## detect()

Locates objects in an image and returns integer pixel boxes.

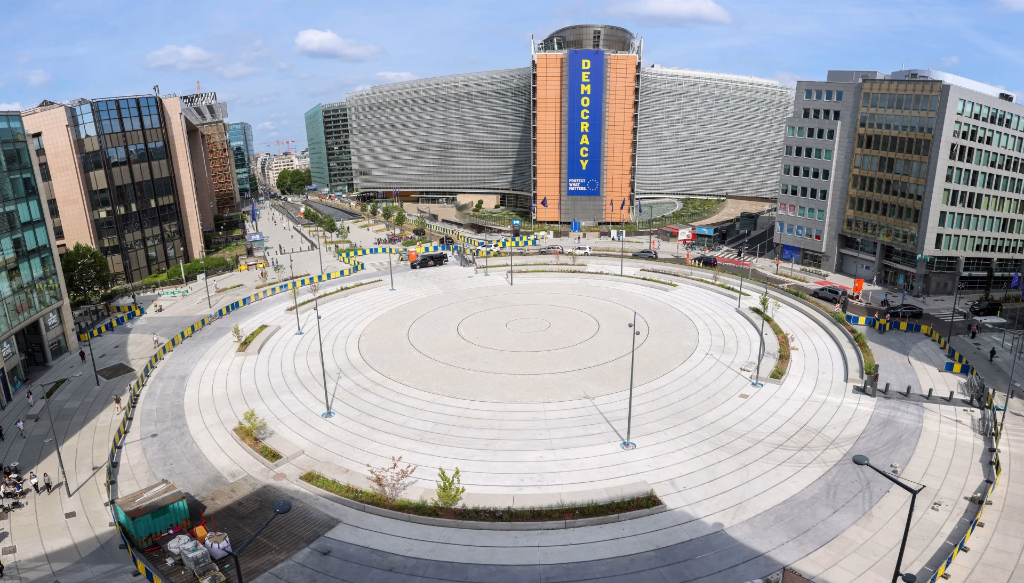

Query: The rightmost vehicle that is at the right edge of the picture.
[974,302,1001,318]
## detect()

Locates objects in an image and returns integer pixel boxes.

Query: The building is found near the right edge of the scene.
[773,61,1024,296]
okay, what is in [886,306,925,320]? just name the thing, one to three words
car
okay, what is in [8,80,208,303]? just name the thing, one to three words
building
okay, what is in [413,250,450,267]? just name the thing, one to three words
vehicle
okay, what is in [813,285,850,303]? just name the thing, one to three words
vehicle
